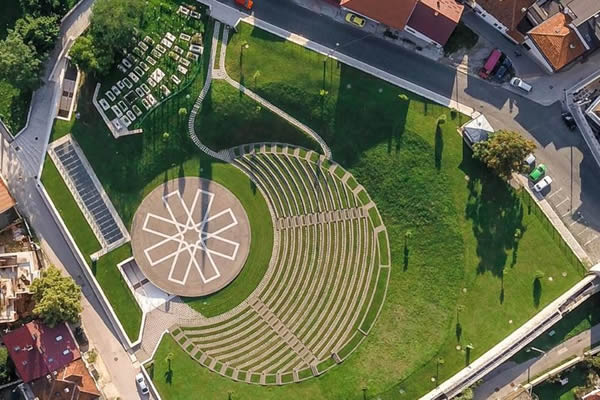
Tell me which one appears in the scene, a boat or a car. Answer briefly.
car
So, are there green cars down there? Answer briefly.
Yes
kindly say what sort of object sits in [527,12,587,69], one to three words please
house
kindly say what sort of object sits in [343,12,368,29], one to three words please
car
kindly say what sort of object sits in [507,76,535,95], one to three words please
car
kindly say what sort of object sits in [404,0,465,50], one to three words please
house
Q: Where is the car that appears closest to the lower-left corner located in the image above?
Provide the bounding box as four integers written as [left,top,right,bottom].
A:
[135,371,152,395]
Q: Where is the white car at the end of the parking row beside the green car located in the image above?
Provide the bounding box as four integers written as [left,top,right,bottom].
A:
[530,174,554,193]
